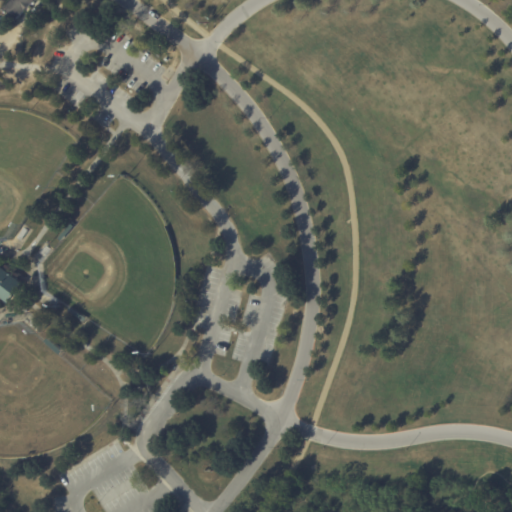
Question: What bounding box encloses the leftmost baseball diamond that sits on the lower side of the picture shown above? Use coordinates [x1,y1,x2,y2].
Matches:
[0,322,112,458]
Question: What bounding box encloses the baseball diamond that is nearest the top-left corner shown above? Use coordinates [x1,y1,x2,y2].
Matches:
[0,109,76,245]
